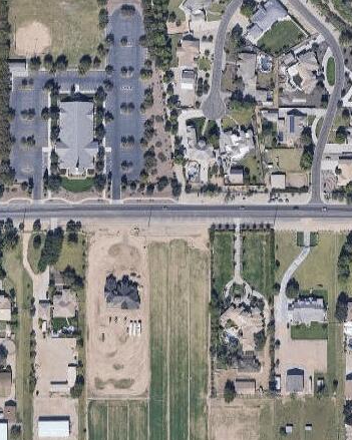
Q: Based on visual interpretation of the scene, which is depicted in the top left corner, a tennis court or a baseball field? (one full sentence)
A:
The one visible in the top left corner is a baseball field.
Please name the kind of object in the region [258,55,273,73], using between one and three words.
swimming pool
